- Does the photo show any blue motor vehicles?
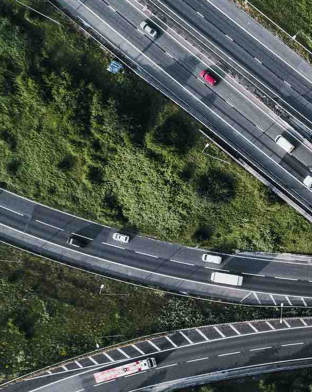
No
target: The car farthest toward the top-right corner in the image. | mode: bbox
[199,69,221,88]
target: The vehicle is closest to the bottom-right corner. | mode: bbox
[211,271,246,287]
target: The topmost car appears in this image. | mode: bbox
[138,21,160,40]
